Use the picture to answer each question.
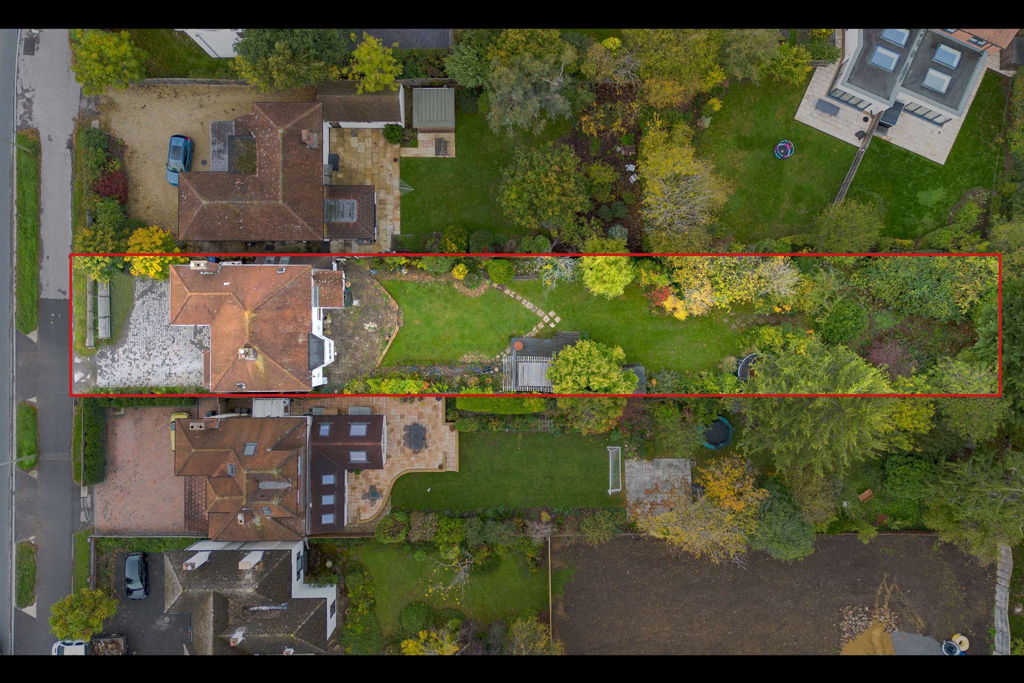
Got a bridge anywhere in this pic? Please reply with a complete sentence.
No, there's no bridge here.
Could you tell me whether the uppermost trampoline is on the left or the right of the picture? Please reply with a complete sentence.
You can find the uppermost trampoline on the right side of the picture.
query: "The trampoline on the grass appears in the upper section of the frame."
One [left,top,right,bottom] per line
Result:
[774,139,795,159]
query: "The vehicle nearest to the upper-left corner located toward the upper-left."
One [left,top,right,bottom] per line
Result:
[164,134,194,186]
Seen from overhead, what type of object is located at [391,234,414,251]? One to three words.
building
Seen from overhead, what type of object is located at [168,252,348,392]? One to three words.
house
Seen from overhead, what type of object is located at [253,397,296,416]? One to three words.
building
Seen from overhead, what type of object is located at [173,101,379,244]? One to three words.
house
